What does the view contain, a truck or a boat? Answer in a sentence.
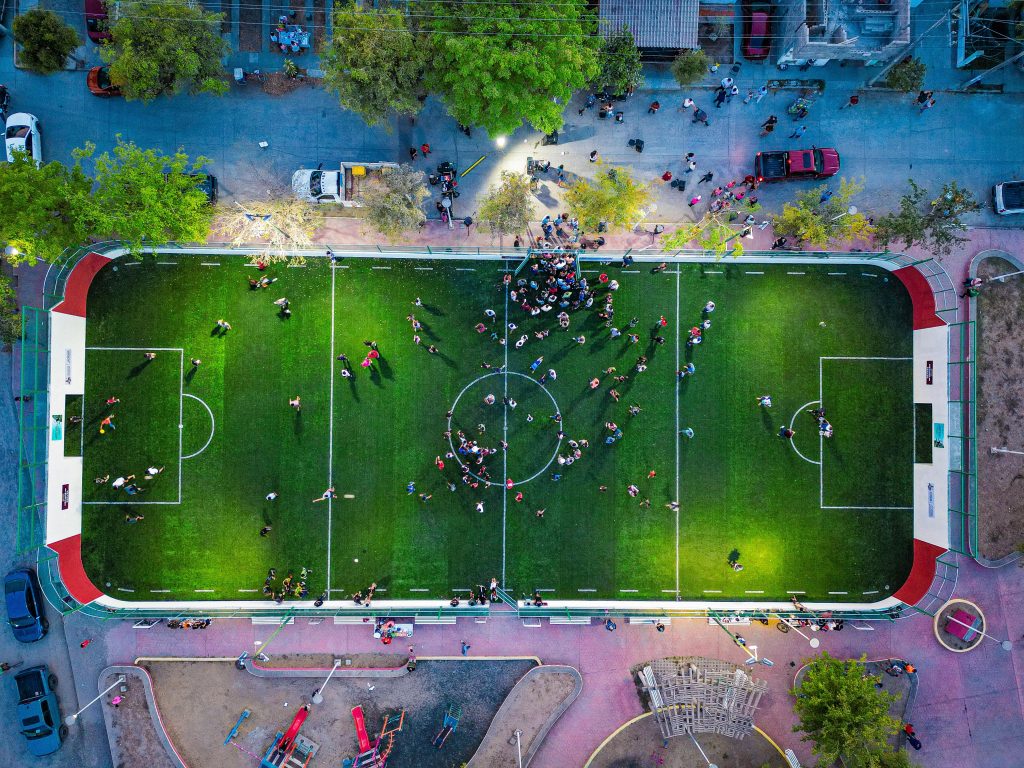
Of the two, only a truck appears.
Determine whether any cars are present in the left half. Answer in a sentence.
Yes, a car can be seen in the left half.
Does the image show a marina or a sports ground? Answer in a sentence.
This looks like a sports ground.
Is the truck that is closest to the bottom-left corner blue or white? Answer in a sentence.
In this view, the truck that is closest to the bottom-left corner is blue.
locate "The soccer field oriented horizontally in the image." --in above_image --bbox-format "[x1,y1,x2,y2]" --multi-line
[68,254,930,603]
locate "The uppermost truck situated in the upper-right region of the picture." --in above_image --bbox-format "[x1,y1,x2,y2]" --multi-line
[738,0,775,73]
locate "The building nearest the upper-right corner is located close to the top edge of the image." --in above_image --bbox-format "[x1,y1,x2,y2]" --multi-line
[777,0,916,68]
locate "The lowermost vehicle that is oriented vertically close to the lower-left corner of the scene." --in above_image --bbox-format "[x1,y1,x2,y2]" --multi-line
[18,658,72,756]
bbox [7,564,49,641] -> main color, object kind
blue car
